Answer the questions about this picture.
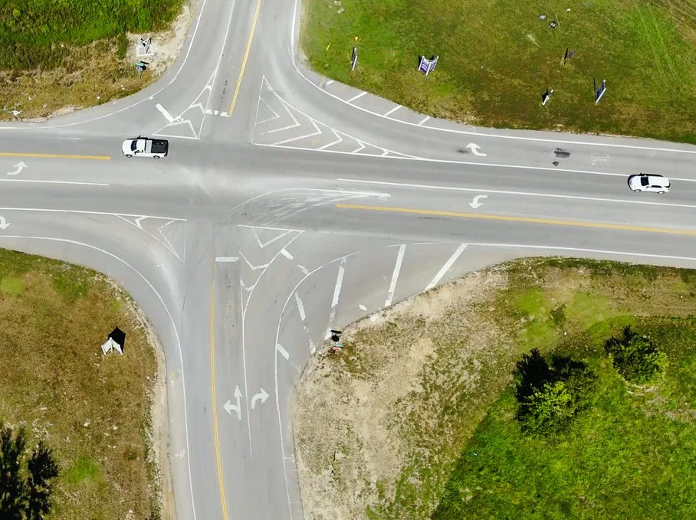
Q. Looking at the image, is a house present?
No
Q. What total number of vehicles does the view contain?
2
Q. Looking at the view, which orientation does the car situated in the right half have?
from left to right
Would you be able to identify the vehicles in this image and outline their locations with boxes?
[120,135,173,159]
[629,173,674,195]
